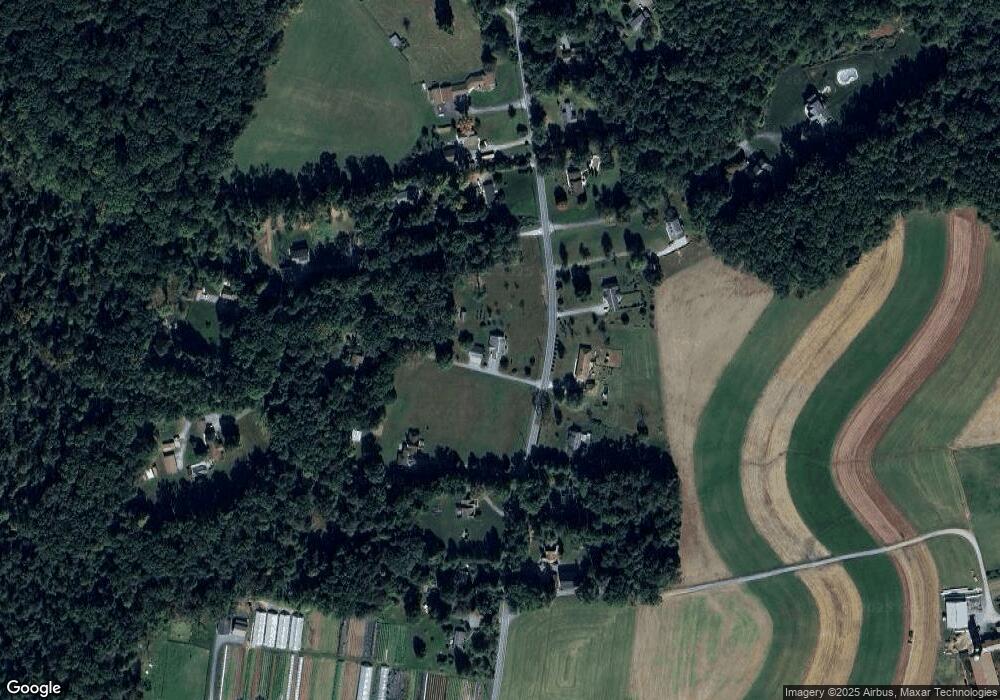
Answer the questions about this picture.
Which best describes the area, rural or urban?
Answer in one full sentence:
It looks rural.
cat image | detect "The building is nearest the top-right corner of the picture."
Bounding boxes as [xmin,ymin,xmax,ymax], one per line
[804,94,829,123]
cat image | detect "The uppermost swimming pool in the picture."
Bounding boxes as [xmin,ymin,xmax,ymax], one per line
[837,67,858,85]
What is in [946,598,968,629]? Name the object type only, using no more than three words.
barn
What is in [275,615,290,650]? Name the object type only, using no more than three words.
greenhouse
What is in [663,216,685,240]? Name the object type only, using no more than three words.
house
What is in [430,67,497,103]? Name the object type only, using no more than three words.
house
